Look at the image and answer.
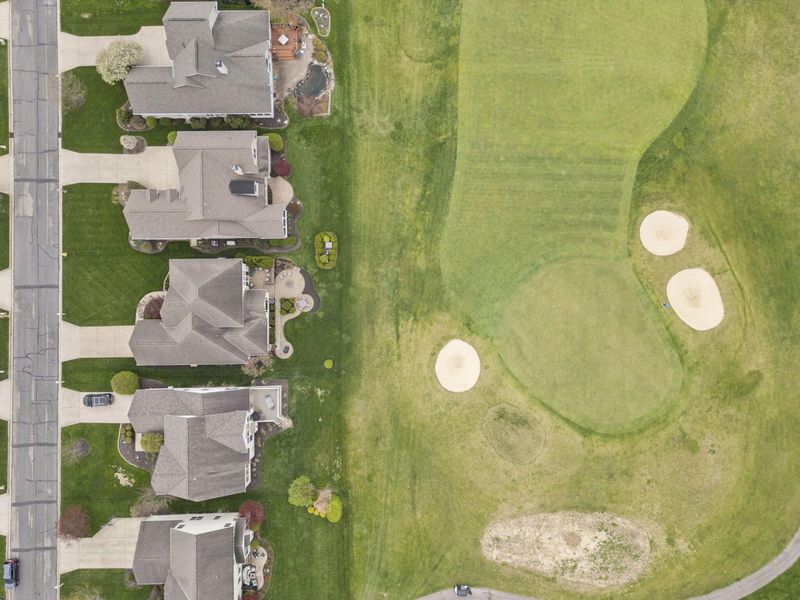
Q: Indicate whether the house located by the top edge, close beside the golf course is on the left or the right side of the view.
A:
left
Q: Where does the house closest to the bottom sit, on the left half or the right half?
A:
left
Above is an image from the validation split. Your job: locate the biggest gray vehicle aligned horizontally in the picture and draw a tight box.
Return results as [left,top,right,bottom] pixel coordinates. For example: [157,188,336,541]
[80,393,112,408]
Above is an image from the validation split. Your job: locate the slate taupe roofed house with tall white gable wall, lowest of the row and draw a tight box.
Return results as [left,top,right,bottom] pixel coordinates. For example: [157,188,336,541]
[133,513,259,600]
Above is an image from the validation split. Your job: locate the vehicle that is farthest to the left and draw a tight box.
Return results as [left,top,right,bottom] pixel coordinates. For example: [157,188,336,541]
[2,560,20,589]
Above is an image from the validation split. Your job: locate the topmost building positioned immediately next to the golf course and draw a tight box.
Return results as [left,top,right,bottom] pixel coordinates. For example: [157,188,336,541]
[124,2,275,117]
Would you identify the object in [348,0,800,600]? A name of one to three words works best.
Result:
golf course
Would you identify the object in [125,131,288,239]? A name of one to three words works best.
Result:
house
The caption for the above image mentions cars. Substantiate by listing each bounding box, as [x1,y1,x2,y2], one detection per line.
[80,393,112,408]
[2,560,20,589]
